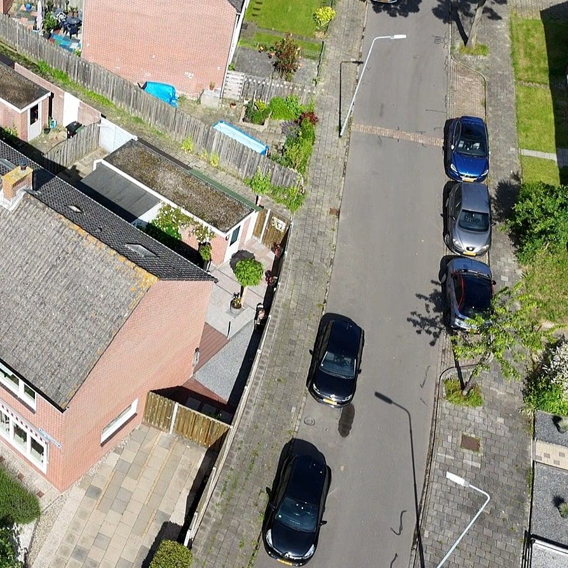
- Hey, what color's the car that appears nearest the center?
black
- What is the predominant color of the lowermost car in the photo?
black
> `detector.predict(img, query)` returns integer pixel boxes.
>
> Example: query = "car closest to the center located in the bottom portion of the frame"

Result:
[306,313,368,408]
